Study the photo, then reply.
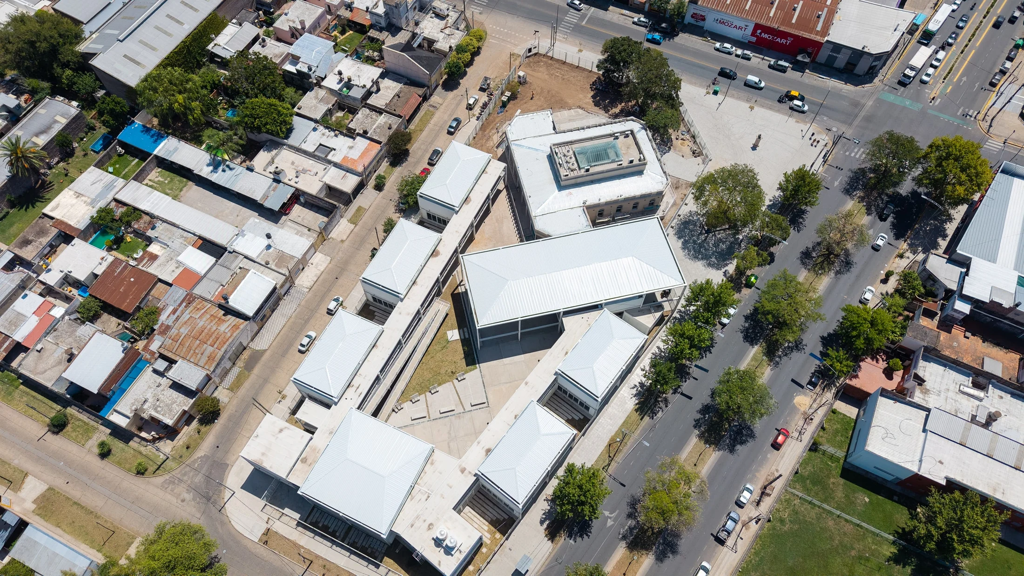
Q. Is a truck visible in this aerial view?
Yes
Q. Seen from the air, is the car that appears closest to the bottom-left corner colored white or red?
white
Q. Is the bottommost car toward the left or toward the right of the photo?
right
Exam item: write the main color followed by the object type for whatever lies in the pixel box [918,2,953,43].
white bus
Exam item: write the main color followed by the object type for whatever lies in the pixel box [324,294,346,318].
white car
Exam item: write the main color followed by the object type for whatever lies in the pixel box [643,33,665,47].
blue car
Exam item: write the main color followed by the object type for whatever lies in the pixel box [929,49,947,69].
white vehicle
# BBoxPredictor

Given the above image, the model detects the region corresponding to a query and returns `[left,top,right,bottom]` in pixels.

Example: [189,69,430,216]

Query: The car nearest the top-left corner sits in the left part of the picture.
[282,197,301,217]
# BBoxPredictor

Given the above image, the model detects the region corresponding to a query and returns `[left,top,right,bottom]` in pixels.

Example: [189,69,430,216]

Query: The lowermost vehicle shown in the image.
[691,555,715,576]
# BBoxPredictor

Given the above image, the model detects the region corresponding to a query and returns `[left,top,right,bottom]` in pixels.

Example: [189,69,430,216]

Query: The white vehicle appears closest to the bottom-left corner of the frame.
[296,329,319,356]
